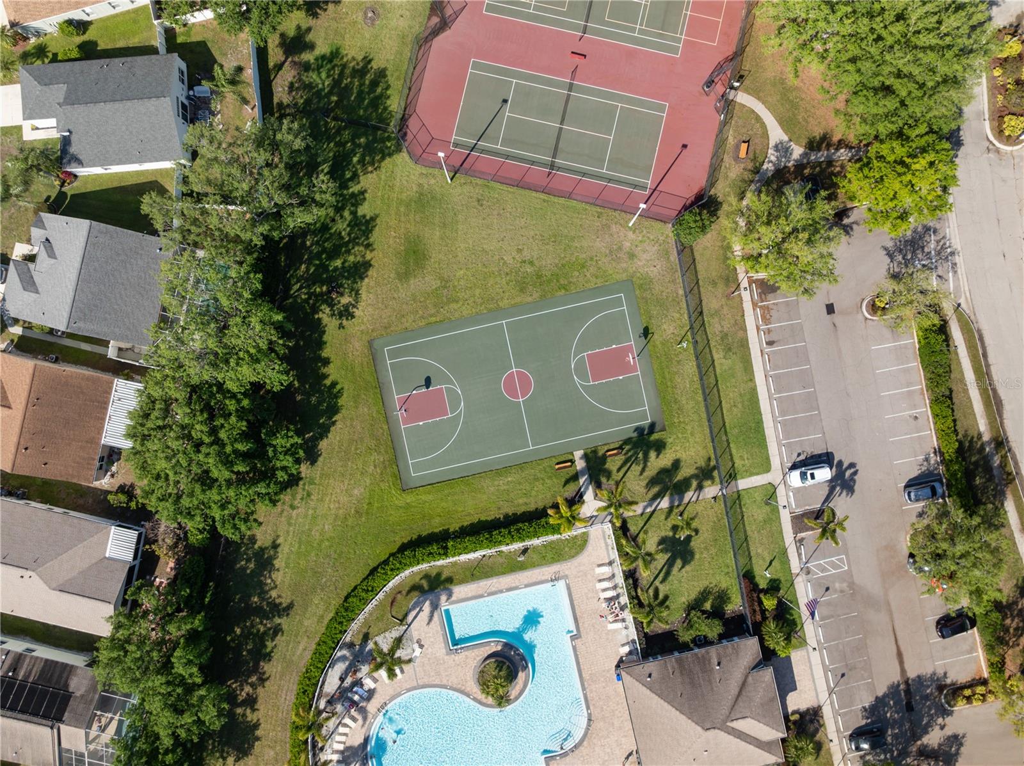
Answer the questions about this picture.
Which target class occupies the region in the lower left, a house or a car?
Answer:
house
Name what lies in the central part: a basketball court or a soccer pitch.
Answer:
basketball court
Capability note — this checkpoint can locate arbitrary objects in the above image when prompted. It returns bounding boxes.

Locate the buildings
[0,639,129,766]
[0,357,142,484]
[620,636,786,766]
[20,54,191,173]
[3,213,235,345]
[0,497,152,636]
[3,0,156,36]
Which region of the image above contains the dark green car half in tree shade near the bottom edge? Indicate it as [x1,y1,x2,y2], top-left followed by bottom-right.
[845,727,888,752]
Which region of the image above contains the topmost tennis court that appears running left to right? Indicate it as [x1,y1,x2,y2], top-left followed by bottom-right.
[483,0,727,56]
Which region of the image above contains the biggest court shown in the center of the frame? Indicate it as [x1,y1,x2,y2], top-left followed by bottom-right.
[370,280,666,490]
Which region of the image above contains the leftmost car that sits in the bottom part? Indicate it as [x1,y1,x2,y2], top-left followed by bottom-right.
[785,464,832,488]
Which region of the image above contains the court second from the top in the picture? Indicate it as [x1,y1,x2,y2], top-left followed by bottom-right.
[451,60,668,192]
